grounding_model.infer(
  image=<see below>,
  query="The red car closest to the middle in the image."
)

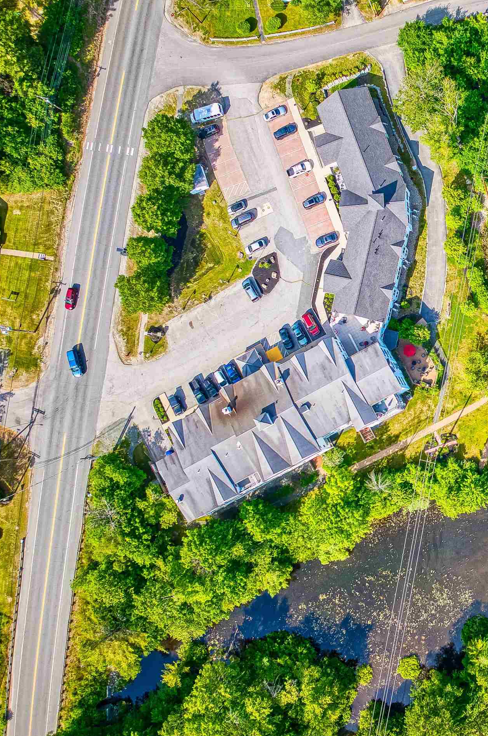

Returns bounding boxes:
[301,312,320,336]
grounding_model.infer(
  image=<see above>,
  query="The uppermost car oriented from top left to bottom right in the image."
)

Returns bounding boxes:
[239,278,263,300]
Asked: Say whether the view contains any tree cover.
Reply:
Yes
